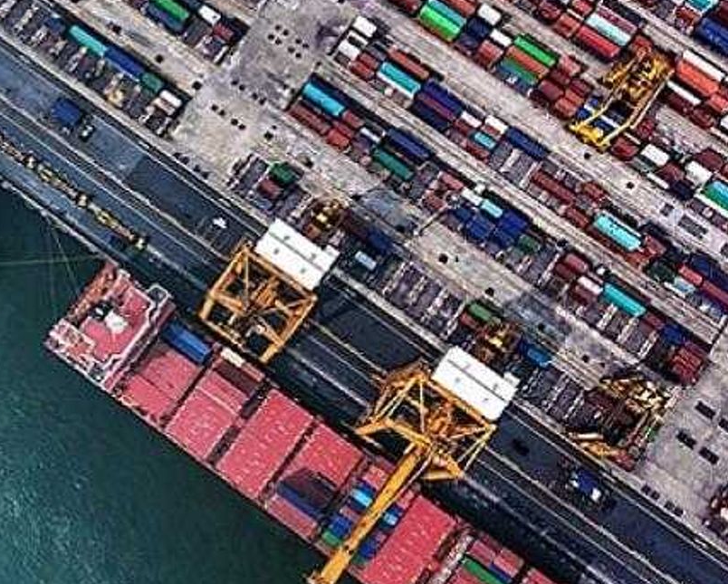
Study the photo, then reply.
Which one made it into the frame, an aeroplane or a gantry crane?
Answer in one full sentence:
There is a gantry crane in the scene.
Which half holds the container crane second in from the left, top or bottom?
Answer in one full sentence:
The container crane second in from the left sits in the bottom half of the picture.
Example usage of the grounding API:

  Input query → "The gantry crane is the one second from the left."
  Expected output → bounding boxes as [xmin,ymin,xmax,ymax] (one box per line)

[303,315,520,584]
